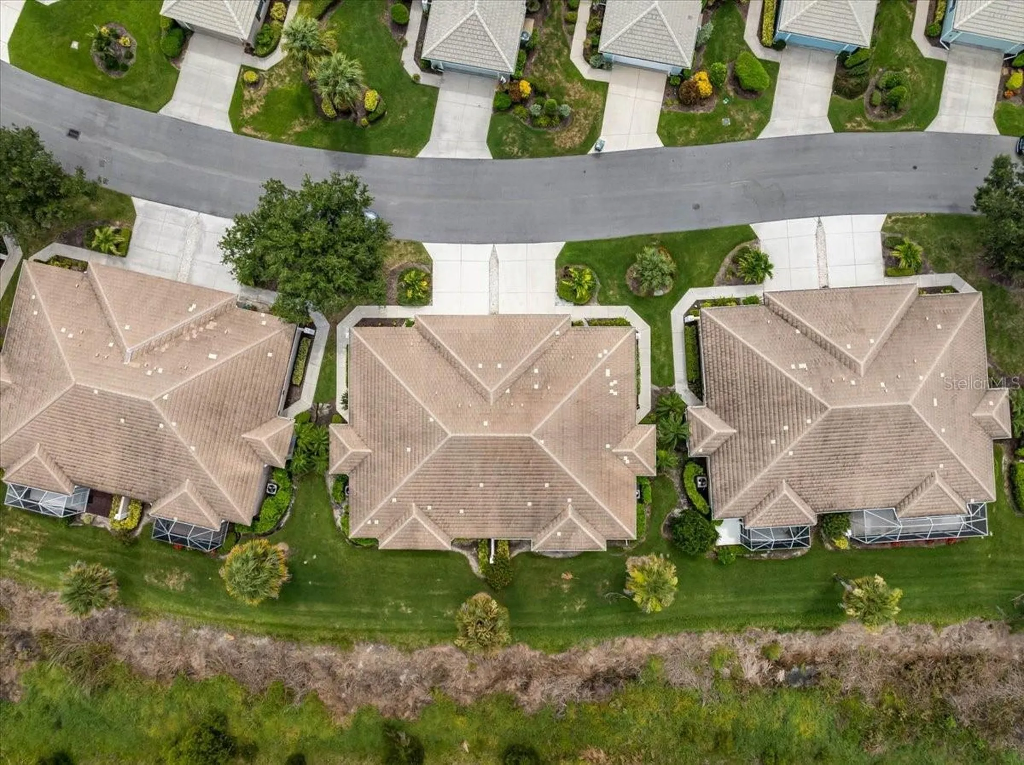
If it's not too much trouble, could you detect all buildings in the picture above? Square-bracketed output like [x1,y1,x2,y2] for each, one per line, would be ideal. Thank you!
[328,313,657,551]
[937,0,1024,58]
[773,0,879,54]
[598,0,705,80]
[421,0,526,82]
[157,0,269,48]
[0,255,302,533]
[683,281,1015,530]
